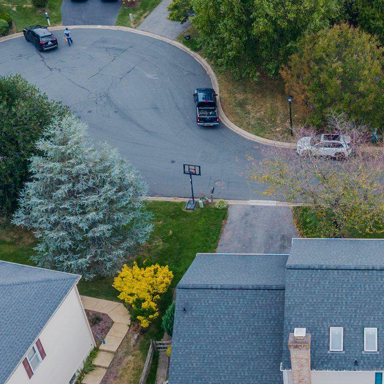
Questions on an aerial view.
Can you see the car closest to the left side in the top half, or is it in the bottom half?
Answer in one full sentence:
The car closest to the left side is in the top half of the image.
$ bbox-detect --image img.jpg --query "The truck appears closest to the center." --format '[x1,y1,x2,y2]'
[191,90,219,130]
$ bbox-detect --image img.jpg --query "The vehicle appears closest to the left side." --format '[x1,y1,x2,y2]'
[22,24,61,53]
